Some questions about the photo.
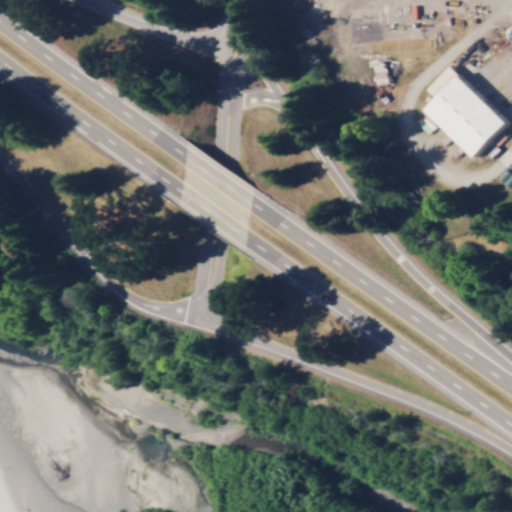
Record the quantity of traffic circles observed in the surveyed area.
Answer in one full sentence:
There are no traffic circles in this view.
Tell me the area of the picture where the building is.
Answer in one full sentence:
The building appears toward the top right of the photo.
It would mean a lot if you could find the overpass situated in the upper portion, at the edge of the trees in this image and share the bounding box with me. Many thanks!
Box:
[170,130,266,261]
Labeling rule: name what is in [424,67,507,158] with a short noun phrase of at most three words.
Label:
building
